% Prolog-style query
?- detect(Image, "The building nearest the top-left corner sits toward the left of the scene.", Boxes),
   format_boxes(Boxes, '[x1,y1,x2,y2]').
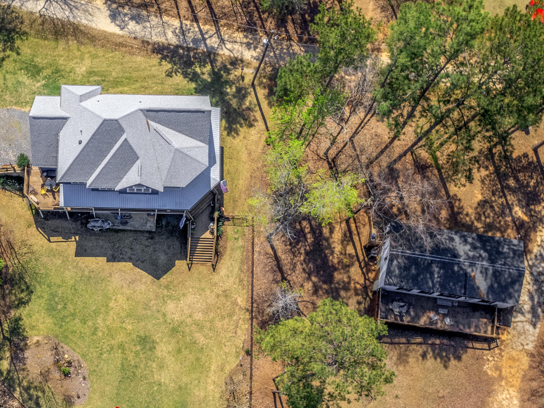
[0,83,222,265]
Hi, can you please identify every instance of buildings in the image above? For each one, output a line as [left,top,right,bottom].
[362,222,526,344]
[0,83,222,265]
